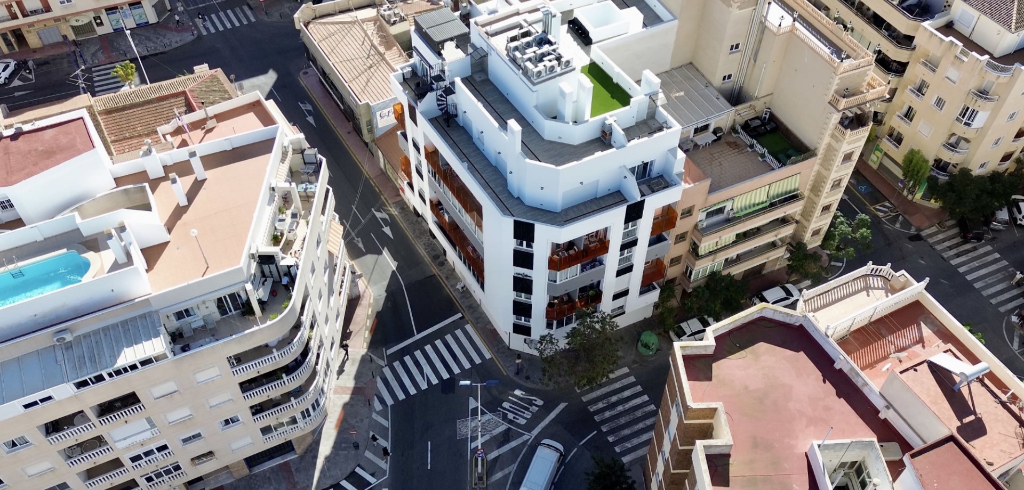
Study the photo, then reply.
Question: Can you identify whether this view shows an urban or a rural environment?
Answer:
urban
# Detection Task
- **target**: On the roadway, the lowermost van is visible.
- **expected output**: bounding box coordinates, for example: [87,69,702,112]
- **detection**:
[511,435,565,490]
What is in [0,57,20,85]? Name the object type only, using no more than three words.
car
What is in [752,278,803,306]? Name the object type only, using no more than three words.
car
